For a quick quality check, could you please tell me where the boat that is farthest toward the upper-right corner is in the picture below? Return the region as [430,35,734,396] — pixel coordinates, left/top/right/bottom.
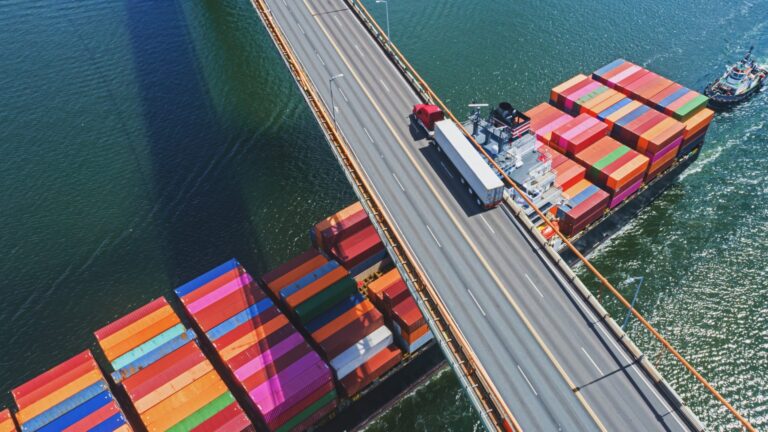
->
[704,44,768,104]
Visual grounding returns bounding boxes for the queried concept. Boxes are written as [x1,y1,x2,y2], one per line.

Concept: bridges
[249,0,758,432]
